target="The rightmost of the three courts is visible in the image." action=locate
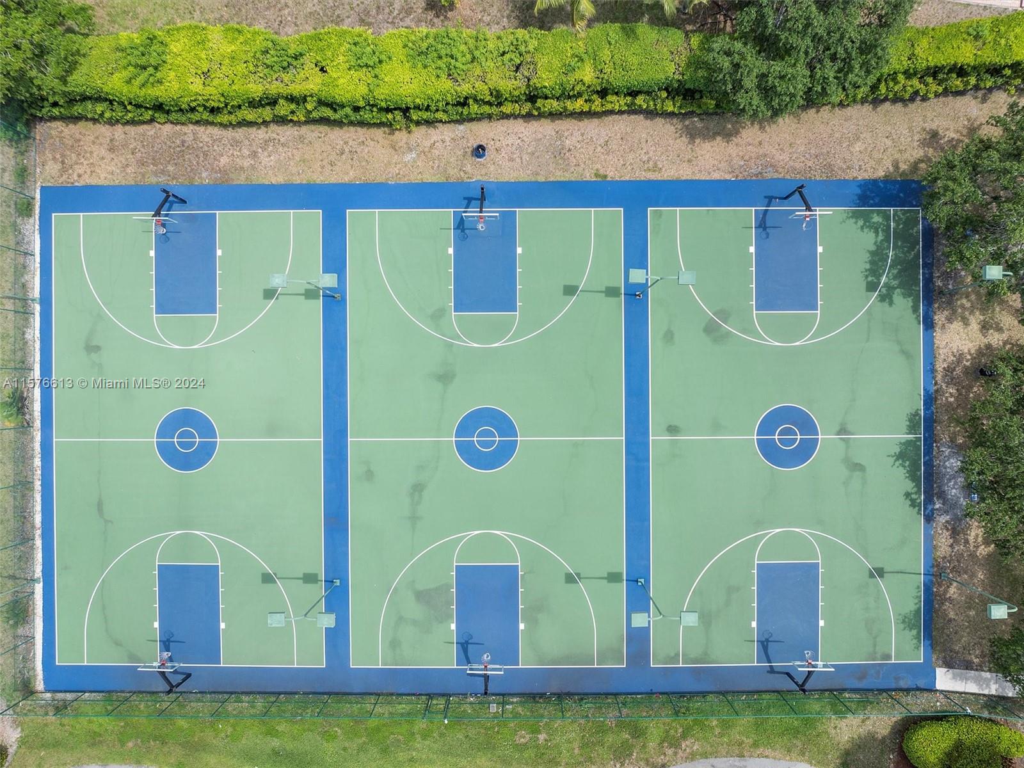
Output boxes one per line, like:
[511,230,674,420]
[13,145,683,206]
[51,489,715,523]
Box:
[648,208,923,667]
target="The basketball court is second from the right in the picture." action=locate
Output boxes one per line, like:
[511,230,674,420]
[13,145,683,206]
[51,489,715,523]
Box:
[346,208,626,668]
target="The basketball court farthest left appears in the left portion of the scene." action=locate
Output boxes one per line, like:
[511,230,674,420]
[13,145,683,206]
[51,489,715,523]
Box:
[52,210,325,667]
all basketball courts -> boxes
[52,210,325,667]
[346,208,626,668]
[648,208,923,667]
